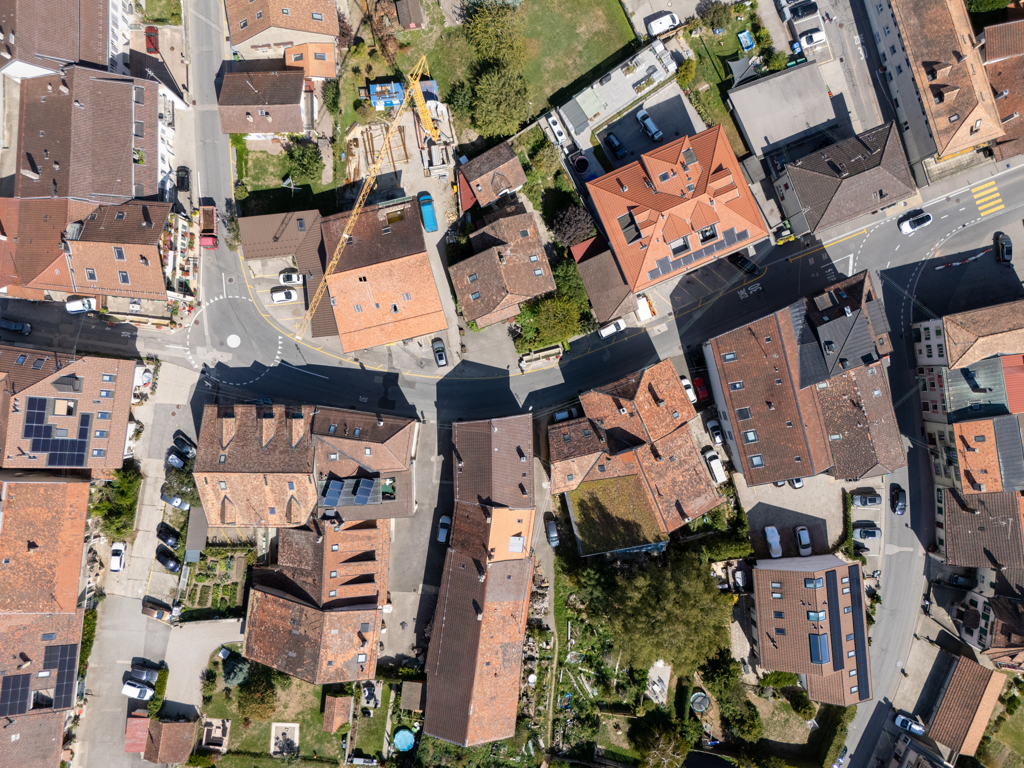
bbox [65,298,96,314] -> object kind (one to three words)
car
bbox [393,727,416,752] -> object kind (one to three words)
swimming pool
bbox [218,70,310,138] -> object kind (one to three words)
house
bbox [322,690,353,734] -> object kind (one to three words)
shed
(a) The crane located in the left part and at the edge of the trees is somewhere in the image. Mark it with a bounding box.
[294,55,452,339]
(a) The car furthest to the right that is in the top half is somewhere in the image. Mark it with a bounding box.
[995,234,1014,265]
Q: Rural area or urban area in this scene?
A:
urban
